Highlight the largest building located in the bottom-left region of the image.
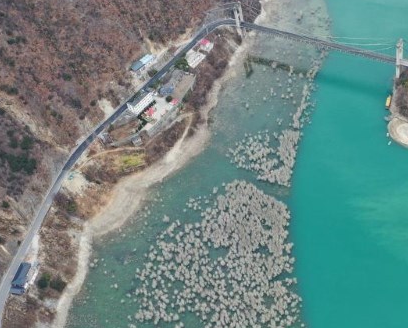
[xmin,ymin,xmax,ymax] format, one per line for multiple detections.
[13,262,34,288]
